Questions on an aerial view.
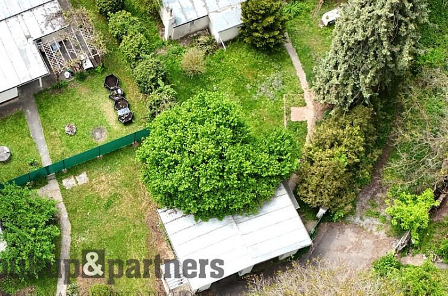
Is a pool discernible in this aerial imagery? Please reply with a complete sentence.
No, there appears to be no pool in this shot.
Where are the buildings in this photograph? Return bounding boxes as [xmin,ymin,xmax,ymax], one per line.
[156,185,314,296]
[153,0,254,49]
[0,0,68,105]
